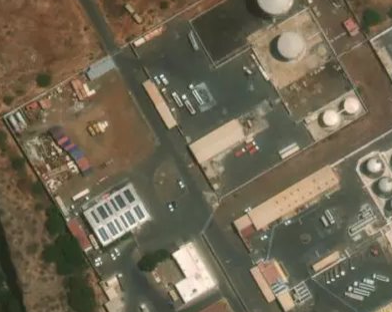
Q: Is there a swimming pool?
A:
No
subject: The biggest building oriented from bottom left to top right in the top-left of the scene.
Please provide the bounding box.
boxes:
[86,56,117,82]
